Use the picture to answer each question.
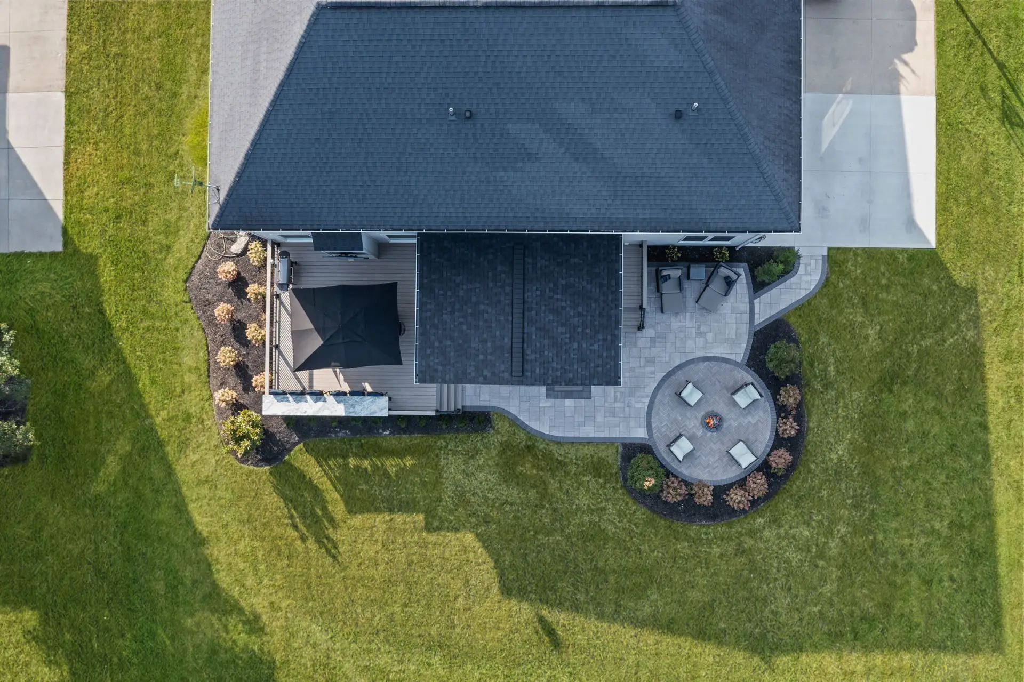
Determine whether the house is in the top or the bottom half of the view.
top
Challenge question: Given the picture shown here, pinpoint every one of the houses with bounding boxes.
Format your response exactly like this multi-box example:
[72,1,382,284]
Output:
[203,0,806,386]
